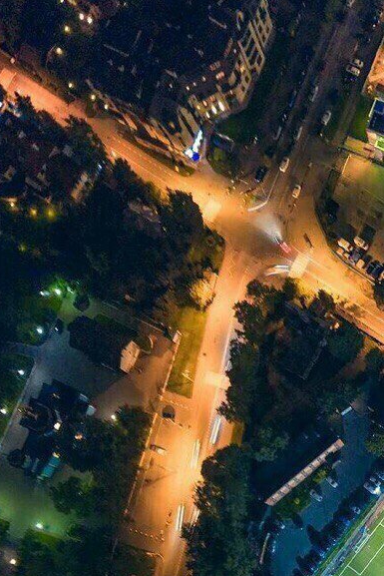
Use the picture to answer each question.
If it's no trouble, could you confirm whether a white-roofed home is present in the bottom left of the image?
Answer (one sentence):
No, there is no white-roofed home in the bottom left of the image.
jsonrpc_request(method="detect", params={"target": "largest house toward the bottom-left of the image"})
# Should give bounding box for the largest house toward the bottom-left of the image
[7,374,95,479]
